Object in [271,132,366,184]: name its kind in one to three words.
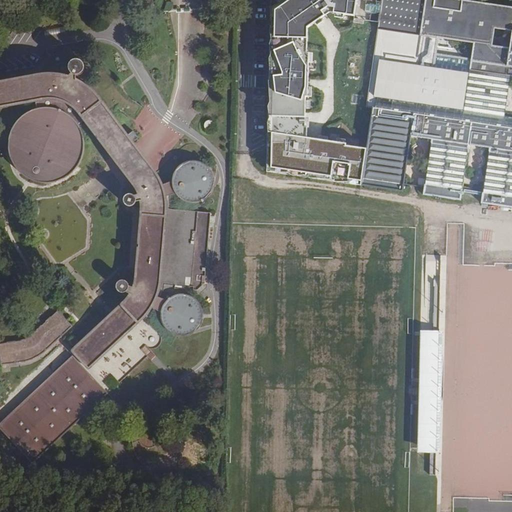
building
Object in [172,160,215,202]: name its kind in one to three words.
building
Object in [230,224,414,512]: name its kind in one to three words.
soccer field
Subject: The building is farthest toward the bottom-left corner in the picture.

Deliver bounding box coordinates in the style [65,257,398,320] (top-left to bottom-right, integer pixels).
[0,357,106,458]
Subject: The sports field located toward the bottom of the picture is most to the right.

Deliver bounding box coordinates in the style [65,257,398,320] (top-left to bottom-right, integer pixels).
[444,224,512,512]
